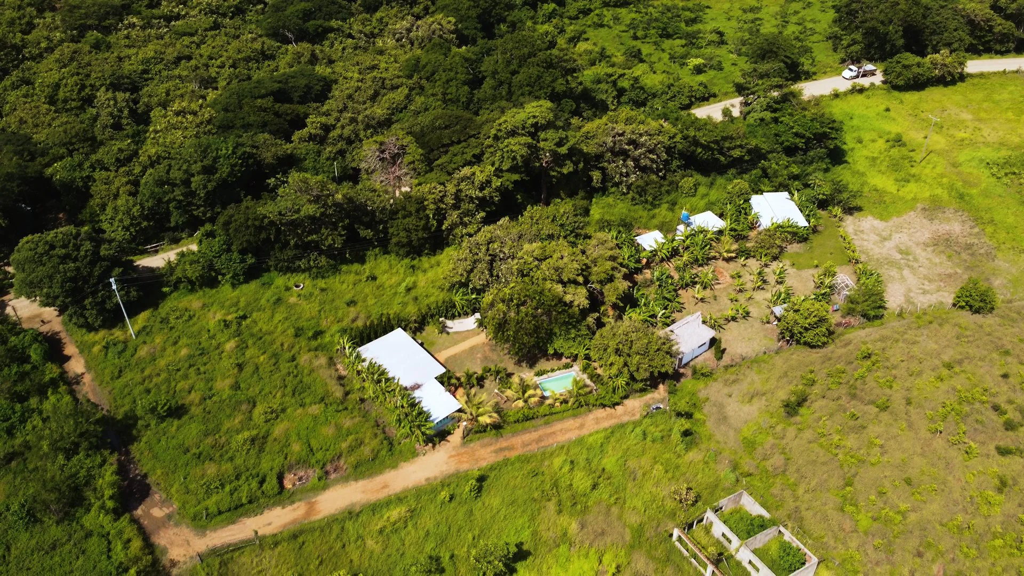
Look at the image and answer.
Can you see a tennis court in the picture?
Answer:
No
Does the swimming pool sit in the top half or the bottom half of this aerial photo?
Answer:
bottom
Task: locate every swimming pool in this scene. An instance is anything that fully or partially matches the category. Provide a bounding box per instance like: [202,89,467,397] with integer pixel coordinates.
[525,364,596,400]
